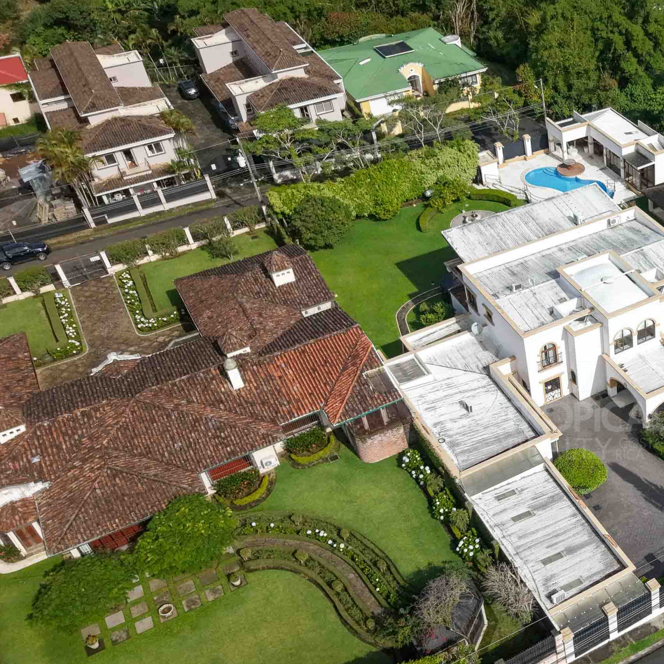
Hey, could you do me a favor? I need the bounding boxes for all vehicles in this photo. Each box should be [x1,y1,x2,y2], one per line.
[218,106,240,128]
[172,76,191,98]
[0,243,48,268]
